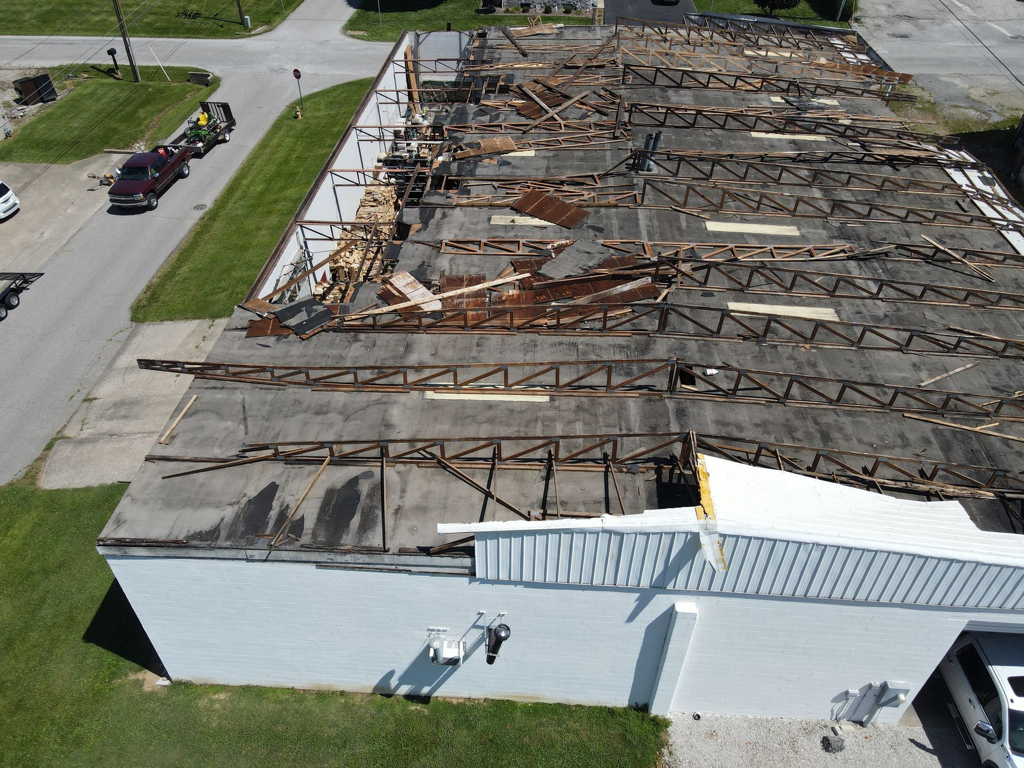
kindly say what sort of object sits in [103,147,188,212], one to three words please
truck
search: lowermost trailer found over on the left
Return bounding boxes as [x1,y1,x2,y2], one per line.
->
[0,244,36,317]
